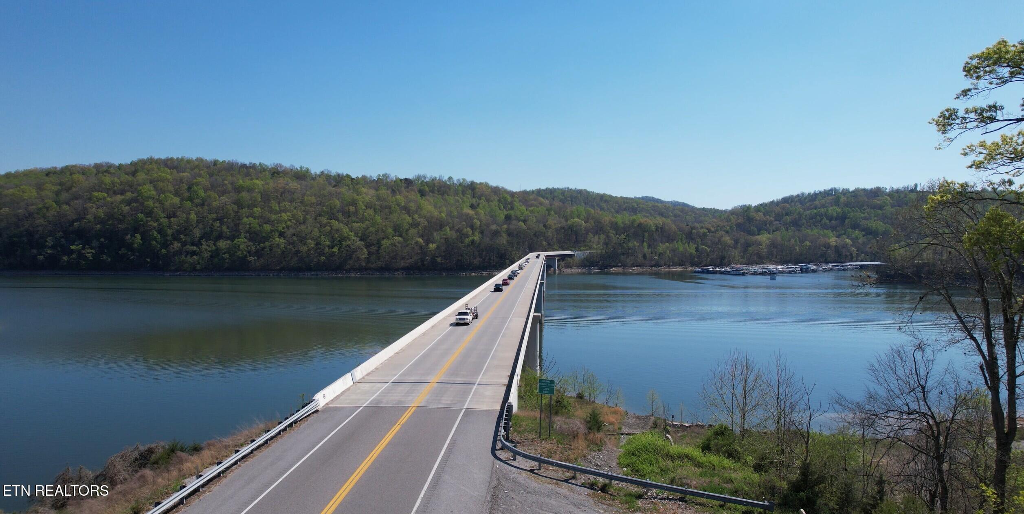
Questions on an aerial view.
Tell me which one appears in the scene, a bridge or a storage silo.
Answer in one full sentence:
Of the two, only a bridge appears.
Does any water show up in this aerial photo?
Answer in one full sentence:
Yes, there is water in the image.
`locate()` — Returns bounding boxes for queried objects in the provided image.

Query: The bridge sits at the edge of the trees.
[316,252,590,408]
